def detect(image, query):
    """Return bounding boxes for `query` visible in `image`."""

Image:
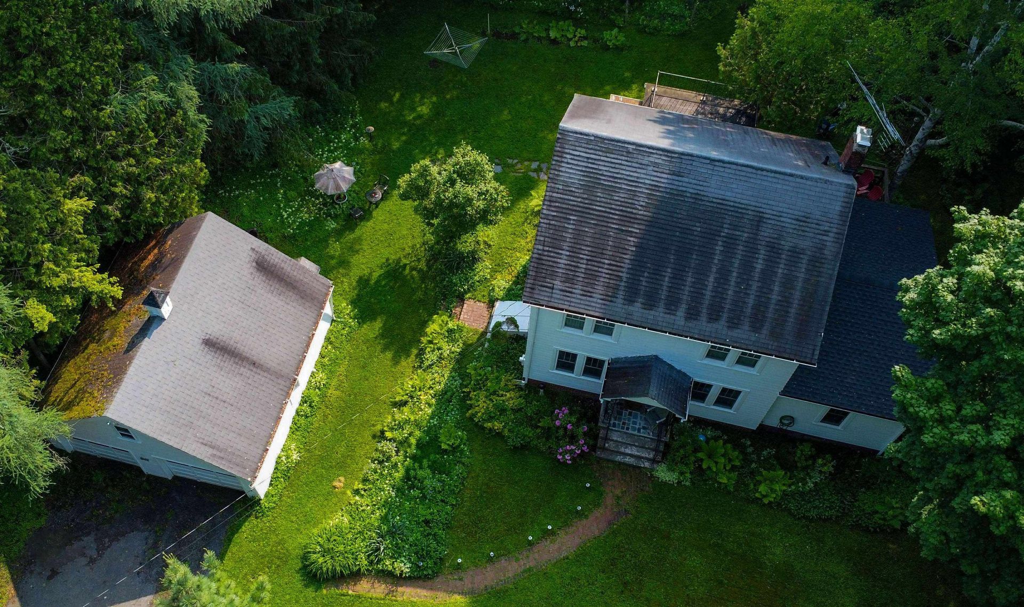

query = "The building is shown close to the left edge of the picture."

[24,212,341,501]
